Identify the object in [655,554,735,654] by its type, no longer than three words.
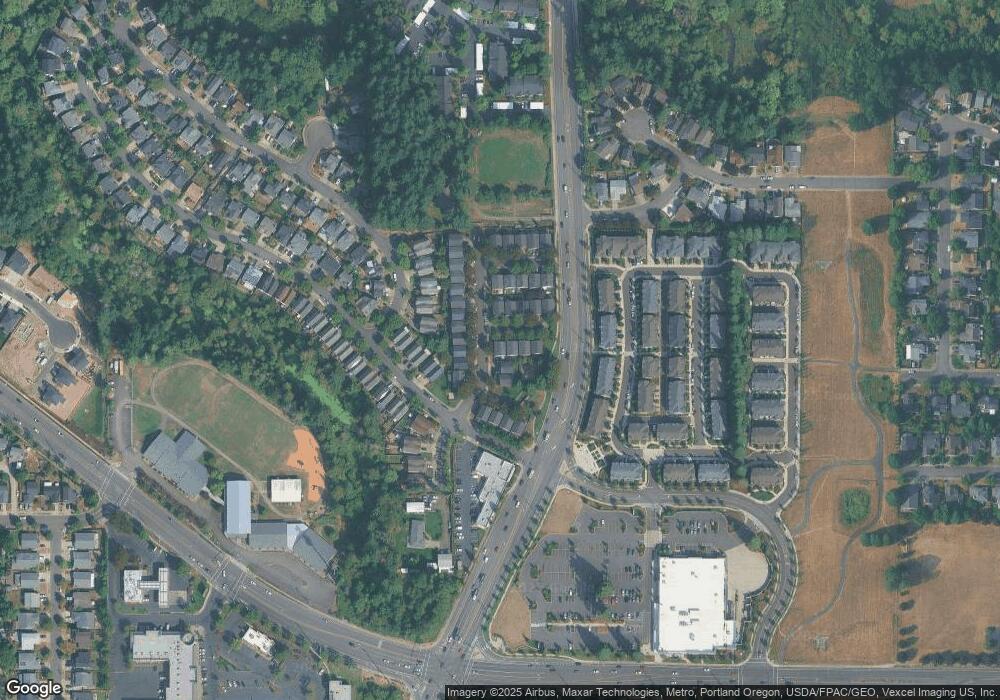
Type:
building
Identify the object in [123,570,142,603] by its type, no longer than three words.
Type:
building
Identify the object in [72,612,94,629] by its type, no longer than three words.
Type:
house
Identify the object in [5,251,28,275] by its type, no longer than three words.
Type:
house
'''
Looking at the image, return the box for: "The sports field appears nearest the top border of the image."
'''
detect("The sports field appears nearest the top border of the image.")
[474,128,550,190]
